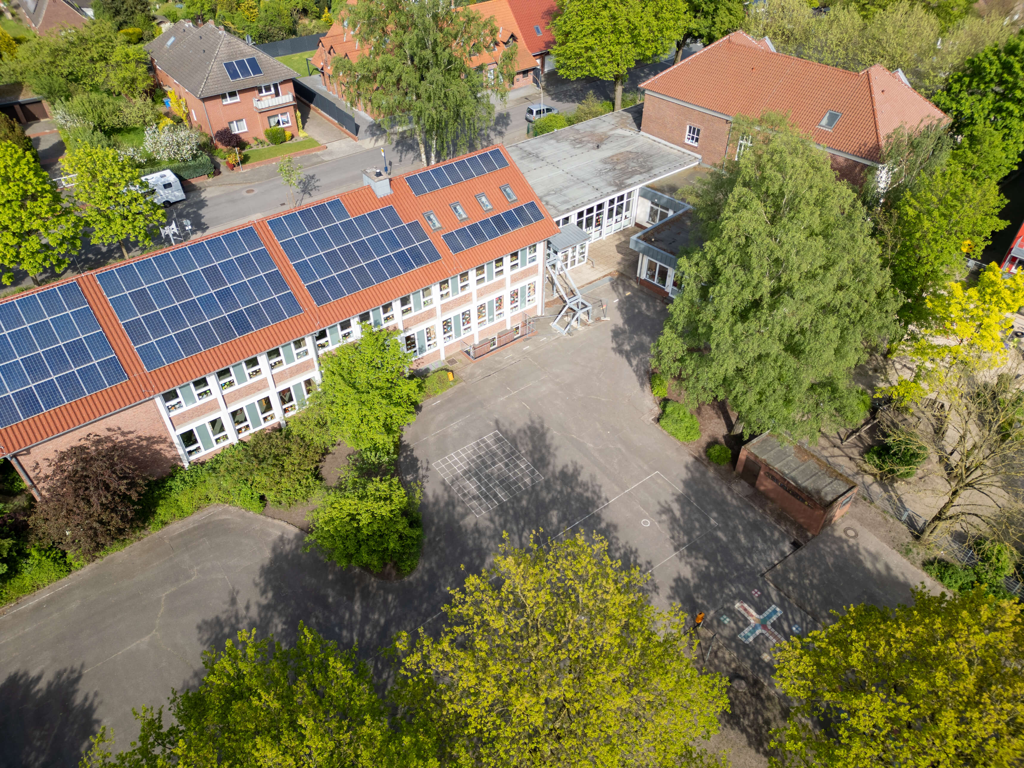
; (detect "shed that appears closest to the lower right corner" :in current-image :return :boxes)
[735,422,861,537]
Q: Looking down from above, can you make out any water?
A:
No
